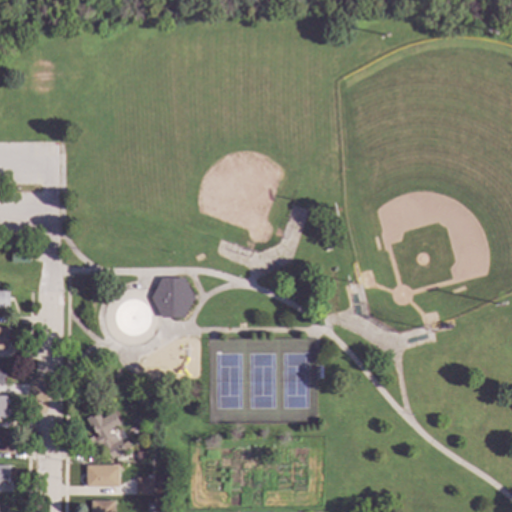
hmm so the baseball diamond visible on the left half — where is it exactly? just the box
[69,30,337,248]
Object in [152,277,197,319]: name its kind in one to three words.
building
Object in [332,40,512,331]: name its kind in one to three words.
baseball field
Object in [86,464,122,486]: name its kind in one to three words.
house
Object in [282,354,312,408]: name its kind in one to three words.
tennis court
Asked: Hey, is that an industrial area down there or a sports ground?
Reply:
sports ground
